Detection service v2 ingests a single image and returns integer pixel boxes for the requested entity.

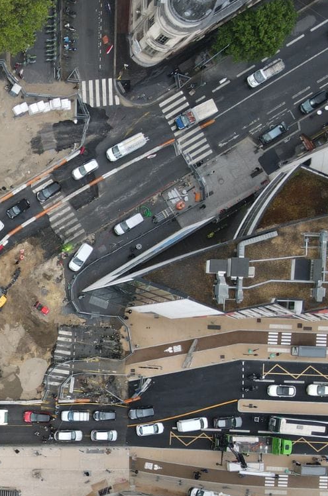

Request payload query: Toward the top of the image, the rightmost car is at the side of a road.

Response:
[297,89,328,115]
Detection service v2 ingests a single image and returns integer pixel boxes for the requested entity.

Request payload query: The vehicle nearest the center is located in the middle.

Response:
[112,211,148,237]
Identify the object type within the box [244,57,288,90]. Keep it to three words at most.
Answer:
truck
